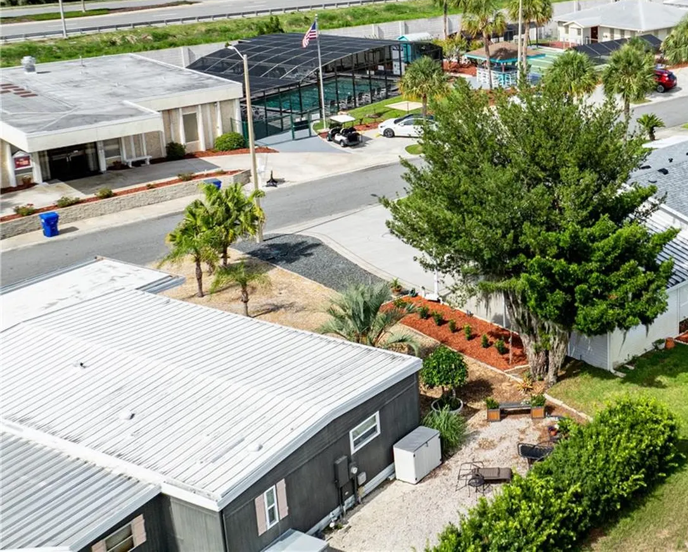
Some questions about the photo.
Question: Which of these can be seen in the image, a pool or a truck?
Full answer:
The image shows a pool.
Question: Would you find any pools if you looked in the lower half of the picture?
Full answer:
No, no pool appears in the lower half of the picture.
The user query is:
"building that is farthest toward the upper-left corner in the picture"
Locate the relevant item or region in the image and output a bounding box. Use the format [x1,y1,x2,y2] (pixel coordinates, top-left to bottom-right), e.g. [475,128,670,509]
[0,51,246,186]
